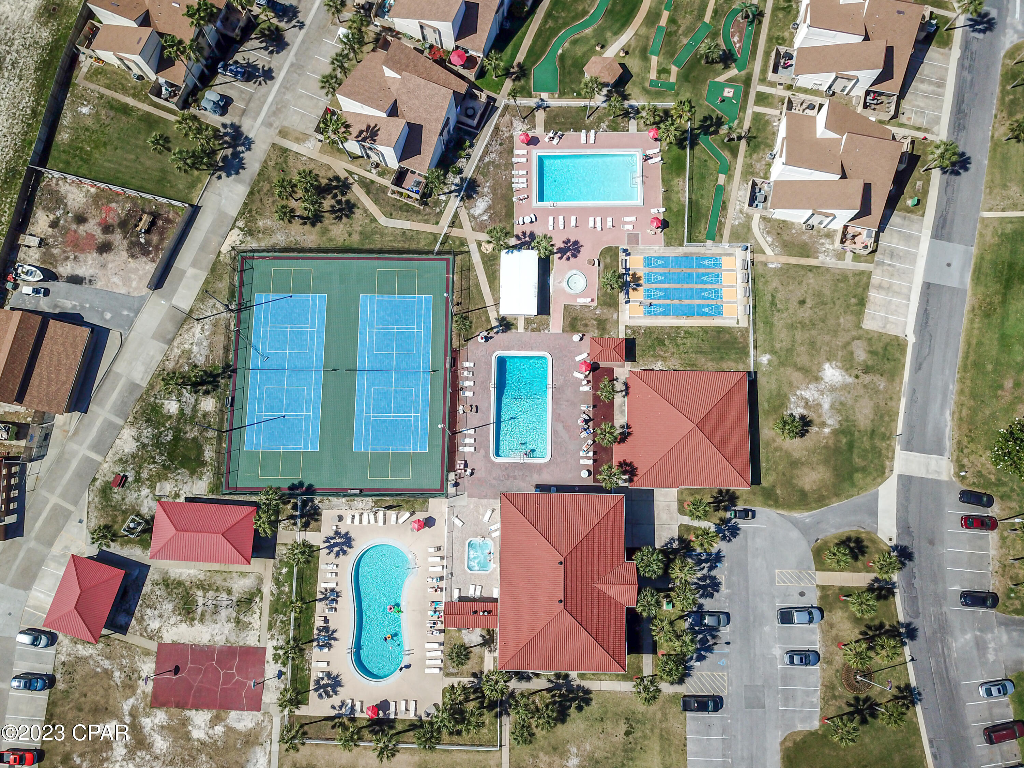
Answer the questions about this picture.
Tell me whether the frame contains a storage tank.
No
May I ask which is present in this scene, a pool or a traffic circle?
pool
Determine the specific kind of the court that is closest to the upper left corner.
tennis court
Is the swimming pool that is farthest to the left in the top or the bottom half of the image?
bottom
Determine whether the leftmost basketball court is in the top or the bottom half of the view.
bottom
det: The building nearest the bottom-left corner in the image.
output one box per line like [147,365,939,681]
[42,554,131,644]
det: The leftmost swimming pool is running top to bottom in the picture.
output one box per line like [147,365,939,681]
[348,538,415,685]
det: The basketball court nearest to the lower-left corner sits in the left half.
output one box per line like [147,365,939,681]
[151,643,266,712]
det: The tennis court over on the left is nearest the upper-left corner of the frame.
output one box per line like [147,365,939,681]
[222,255,453,498]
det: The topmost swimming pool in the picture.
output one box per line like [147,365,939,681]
[532,149,644,207]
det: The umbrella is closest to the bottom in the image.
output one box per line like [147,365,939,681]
[365,703,380,718]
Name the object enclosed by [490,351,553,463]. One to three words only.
swimming pool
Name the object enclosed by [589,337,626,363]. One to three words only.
building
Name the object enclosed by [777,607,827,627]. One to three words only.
vehicle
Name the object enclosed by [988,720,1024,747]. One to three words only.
car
